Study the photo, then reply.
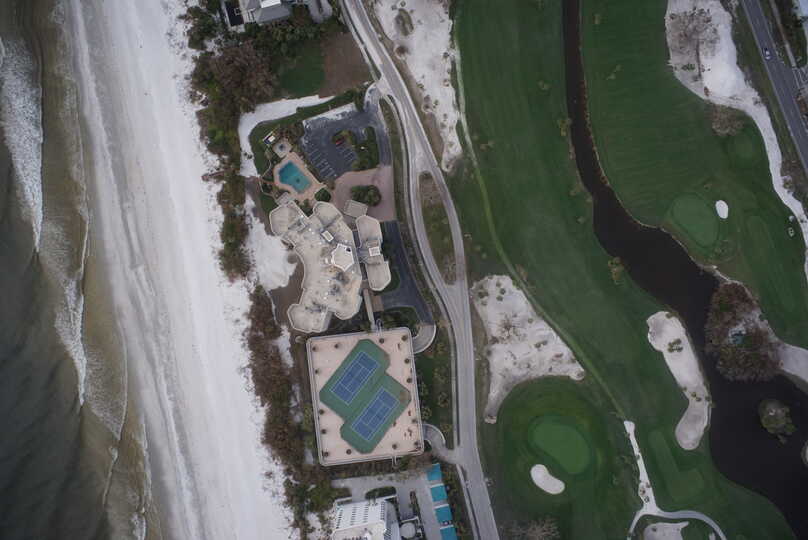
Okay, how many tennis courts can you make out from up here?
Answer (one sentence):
I count 2 tennis courts.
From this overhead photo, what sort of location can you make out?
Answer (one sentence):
This image shows a golf course.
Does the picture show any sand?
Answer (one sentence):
Yes, the picture does contain sand.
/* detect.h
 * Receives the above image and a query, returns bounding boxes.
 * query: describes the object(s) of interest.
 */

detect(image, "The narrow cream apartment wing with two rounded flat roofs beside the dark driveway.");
[356,215,391,291]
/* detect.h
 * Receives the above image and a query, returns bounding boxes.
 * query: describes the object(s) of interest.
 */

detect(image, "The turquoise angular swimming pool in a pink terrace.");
[273,151,327,207]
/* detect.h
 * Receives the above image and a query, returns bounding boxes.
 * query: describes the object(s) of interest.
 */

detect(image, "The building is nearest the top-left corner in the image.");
[221,0,298,32]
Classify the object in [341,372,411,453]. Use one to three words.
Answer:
tennis court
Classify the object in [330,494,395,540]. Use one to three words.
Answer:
building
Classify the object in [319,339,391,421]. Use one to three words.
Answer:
tennis court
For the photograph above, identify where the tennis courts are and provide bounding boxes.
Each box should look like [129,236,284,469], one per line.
[319,339,391,421]
[341,372,411,453]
